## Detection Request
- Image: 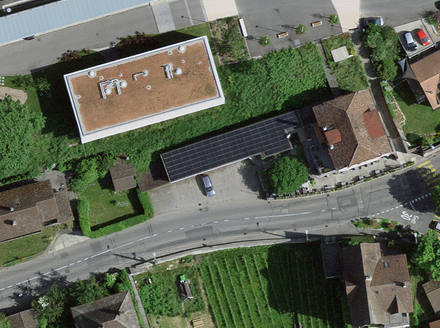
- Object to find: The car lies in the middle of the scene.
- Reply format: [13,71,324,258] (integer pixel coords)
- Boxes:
[202,175,216,198]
